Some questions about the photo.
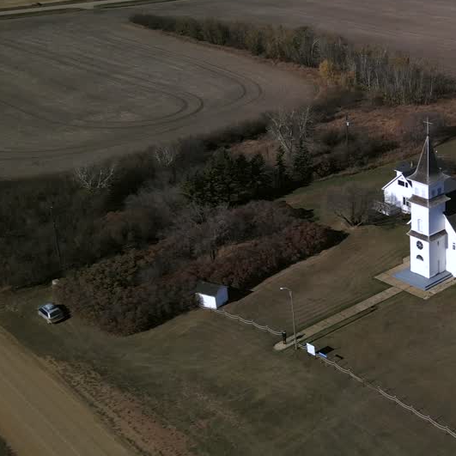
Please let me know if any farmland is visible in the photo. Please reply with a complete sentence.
Yes, farmland shows up in the scene.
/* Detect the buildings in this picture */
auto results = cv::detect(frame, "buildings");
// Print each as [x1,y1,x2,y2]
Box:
[393,111,456,290]
[197,281,231,310]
